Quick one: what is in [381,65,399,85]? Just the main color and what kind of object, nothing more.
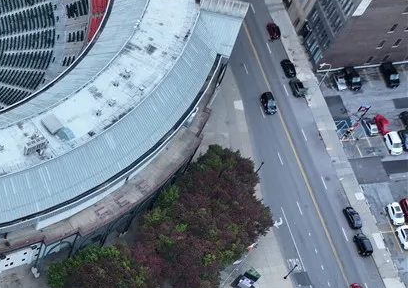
black car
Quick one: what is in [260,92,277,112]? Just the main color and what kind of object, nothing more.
black car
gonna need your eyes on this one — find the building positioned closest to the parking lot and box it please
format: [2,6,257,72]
[282,0,408,74]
